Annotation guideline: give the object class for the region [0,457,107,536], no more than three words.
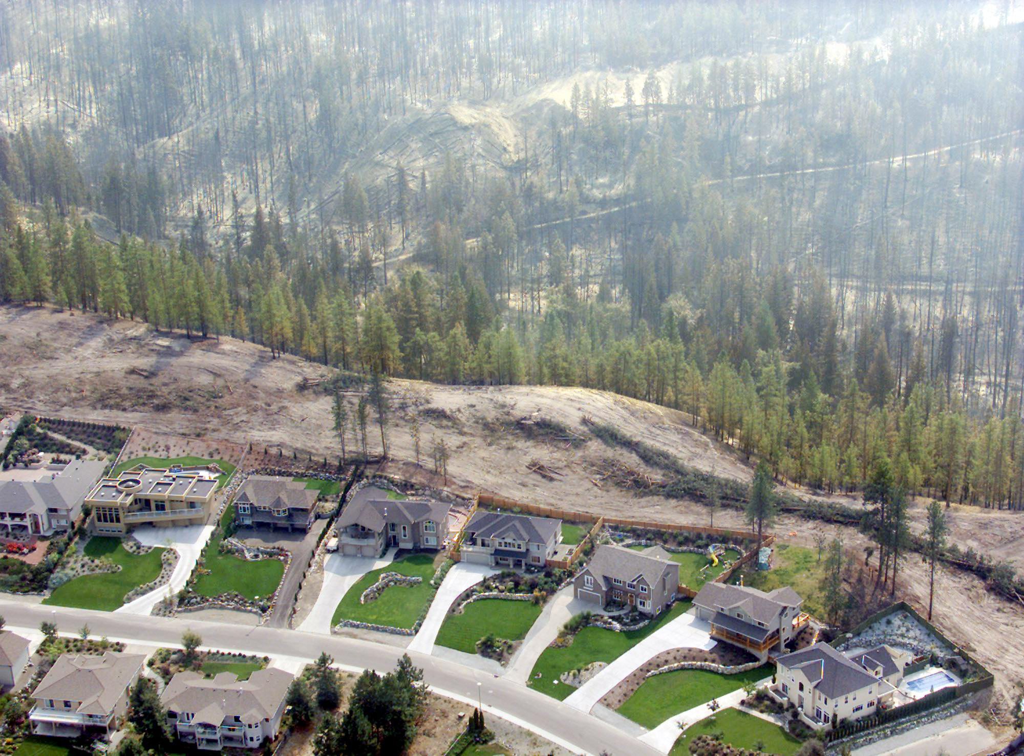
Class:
house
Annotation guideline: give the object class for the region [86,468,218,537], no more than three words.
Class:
house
